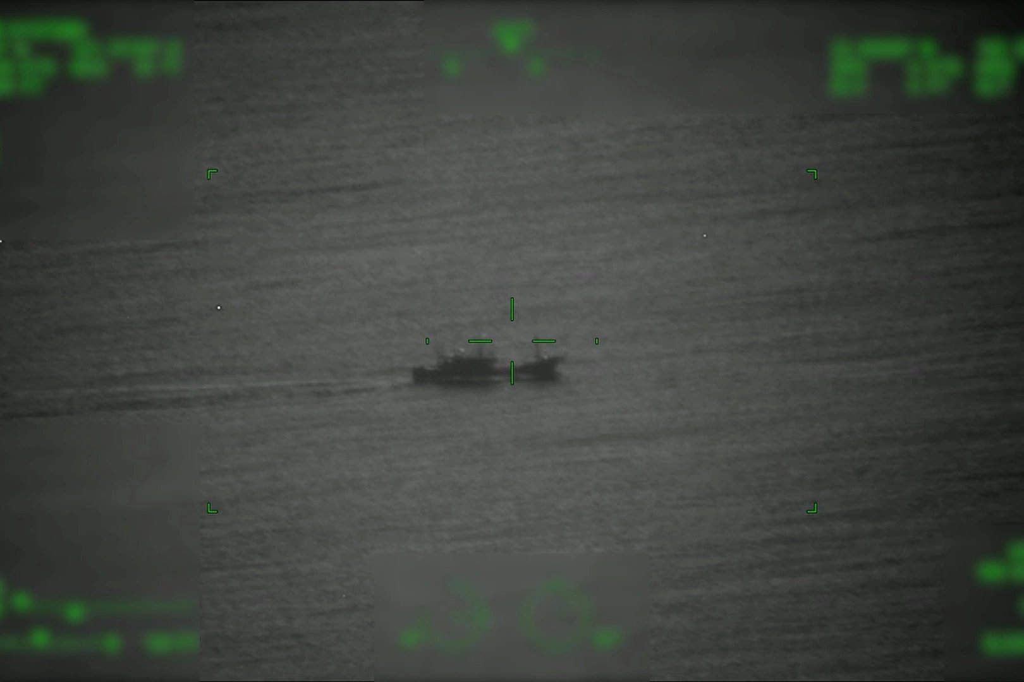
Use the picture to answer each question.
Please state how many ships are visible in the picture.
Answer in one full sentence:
In total, there is 1 ship in the scene.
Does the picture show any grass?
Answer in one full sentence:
No, there's no grass in this view.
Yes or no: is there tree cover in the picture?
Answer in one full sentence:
No, the picture contains no tree cover.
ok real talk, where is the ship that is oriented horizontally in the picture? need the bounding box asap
[411,334,562,382]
